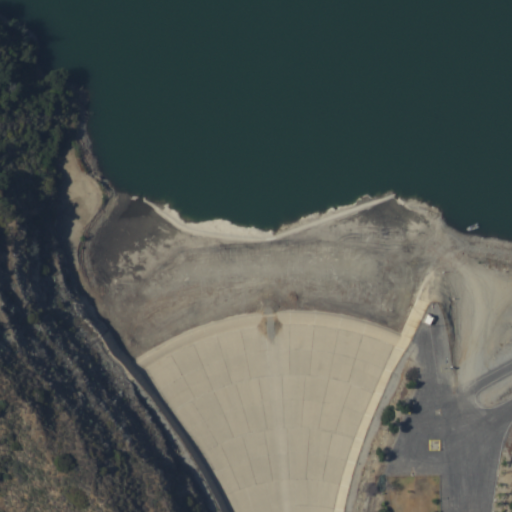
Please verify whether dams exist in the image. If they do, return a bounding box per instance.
[60,282,430,512]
